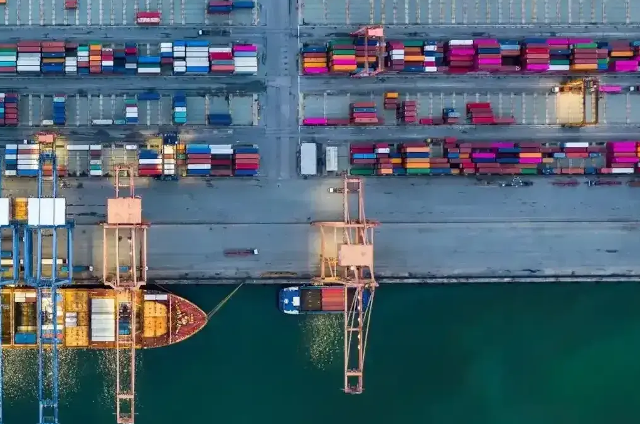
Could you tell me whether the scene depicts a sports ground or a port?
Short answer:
port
